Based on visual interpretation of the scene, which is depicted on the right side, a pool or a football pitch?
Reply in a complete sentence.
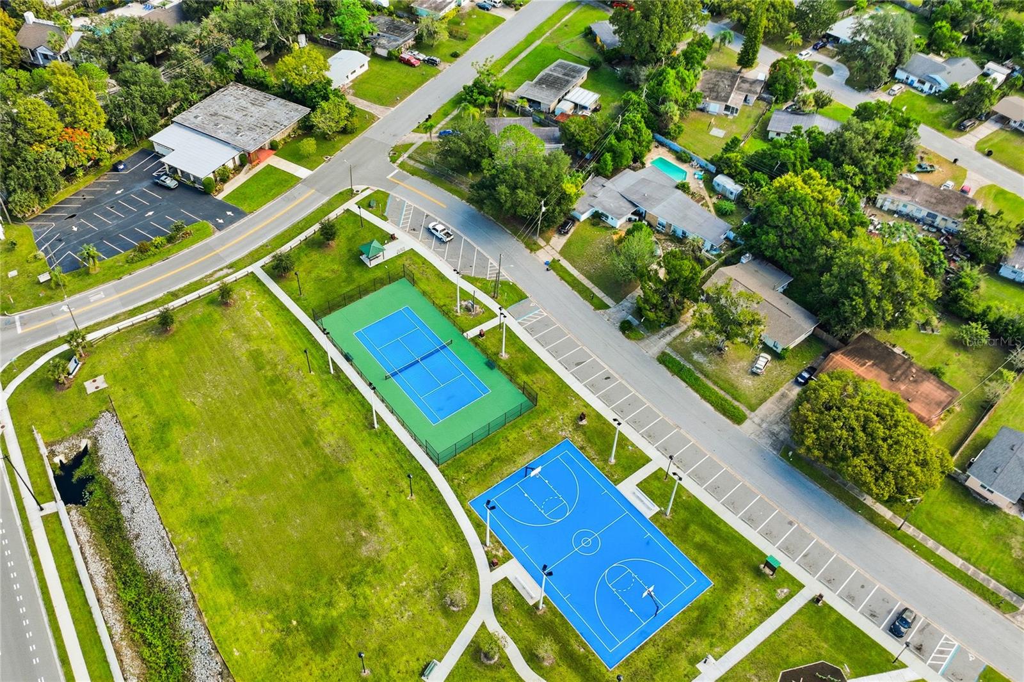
There is a pool on the right side.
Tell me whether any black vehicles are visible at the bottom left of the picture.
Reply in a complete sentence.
No, I can find no black vehicle at the bottom left of the picture.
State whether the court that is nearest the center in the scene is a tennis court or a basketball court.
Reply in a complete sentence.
The court that is nearest the center in the image is a tennis court.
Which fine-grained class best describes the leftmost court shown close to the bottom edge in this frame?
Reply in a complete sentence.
Looking closely, the leftmost court shown close to the bottom edge is a basketball court.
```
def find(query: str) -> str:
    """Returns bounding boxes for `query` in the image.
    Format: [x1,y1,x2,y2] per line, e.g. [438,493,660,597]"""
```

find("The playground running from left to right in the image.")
[777,660,850,682]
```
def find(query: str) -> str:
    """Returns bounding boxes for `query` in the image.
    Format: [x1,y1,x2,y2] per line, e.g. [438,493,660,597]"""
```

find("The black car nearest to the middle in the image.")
[557,220,577,236]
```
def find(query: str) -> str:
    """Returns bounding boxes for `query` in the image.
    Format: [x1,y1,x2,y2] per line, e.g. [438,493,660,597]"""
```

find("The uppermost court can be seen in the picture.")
[314,276,535,463]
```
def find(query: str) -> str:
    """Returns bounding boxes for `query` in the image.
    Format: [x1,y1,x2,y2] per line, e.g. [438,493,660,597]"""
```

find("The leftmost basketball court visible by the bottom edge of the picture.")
[469,440,712,667]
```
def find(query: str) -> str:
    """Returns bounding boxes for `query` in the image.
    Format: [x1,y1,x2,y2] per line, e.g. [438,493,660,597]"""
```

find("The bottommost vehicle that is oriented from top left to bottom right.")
[428,221,455,242]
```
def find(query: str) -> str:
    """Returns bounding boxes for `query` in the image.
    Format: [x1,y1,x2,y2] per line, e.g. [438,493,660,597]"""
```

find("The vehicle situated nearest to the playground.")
[887,605,918,639]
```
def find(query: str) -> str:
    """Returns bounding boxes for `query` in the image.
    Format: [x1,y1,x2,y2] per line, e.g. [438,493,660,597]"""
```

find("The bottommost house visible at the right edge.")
[962,427,1024,511]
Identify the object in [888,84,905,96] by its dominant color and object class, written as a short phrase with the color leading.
white vehicle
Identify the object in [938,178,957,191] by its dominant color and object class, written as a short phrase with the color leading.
white vehicle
